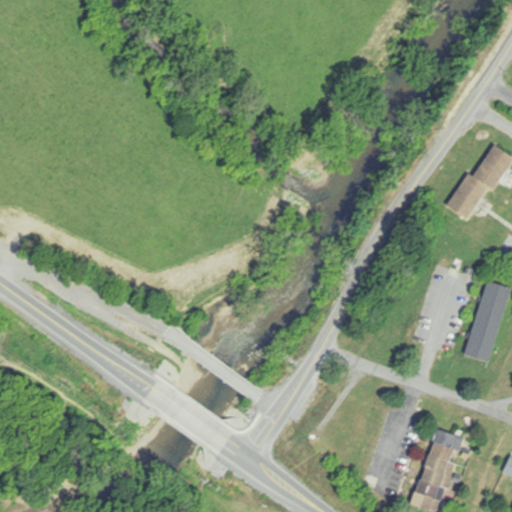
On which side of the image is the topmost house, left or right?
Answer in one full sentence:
The topmost house sits on the right side.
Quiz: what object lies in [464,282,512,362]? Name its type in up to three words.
building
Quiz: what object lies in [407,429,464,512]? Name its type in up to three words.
building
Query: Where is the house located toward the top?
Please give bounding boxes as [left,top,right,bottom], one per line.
[446,143,512,221]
